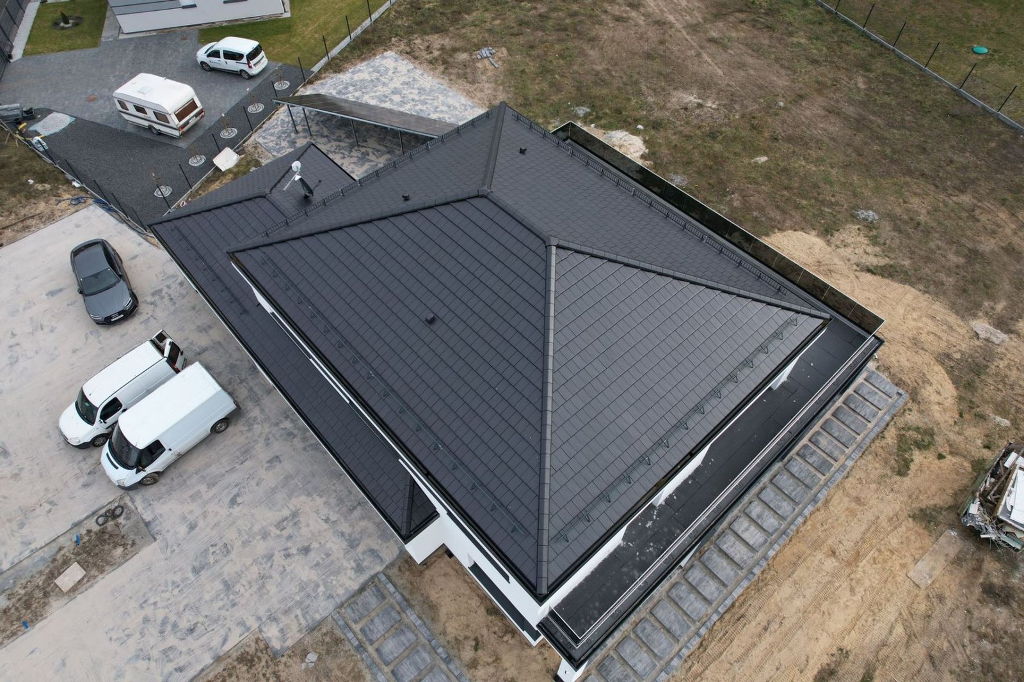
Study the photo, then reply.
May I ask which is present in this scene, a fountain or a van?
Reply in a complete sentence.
Looking from above, you can make out a van.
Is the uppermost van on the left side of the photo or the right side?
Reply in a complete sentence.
It is on the left.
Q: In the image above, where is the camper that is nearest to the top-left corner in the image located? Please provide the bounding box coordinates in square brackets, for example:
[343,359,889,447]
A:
[106,69,205,137]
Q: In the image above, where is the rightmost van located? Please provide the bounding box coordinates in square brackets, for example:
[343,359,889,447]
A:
[196,34,270,81]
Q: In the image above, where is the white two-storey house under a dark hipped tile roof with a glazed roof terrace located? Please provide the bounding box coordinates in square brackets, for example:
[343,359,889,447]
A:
[149,99,884,673]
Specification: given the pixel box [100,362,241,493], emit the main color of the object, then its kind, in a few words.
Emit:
white van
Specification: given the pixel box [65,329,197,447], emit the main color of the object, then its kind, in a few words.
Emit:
white van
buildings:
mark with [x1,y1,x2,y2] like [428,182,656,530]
[149,99,884,673]
[106,0,289,32]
